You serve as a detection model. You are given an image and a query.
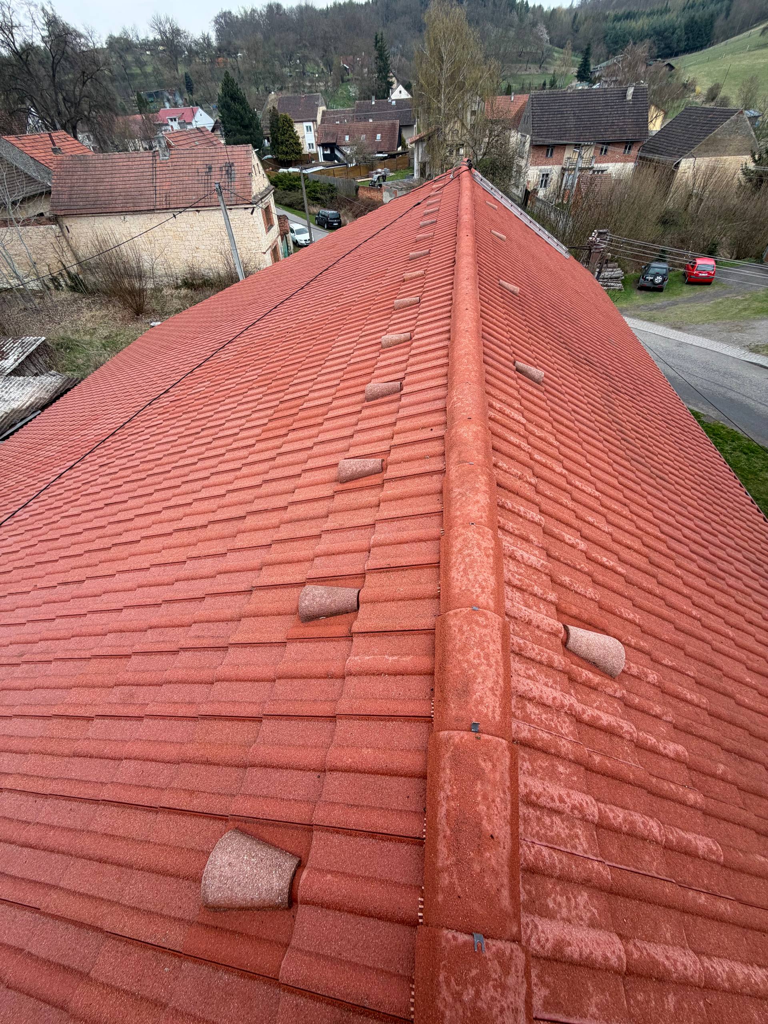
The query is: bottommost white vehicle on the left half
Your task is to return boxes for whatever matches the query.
[288,217,314,244]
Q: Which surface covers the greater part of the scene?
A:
buildings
